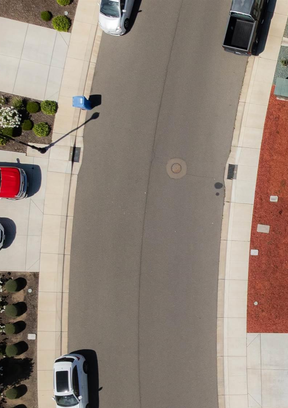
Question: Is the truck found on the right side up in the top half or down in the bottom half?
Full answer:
The truck found on the right side sits in the top half of the picture.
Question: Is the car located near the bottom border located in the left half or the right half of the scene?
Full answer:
The car located near the bottom border sits on the left side.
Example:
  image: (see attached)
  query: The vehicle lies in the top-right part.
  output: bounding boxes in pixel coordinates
[223,0,267,61]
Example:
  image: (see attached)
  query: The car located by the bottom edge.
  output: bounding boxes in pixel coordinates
[48,354,89,408]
